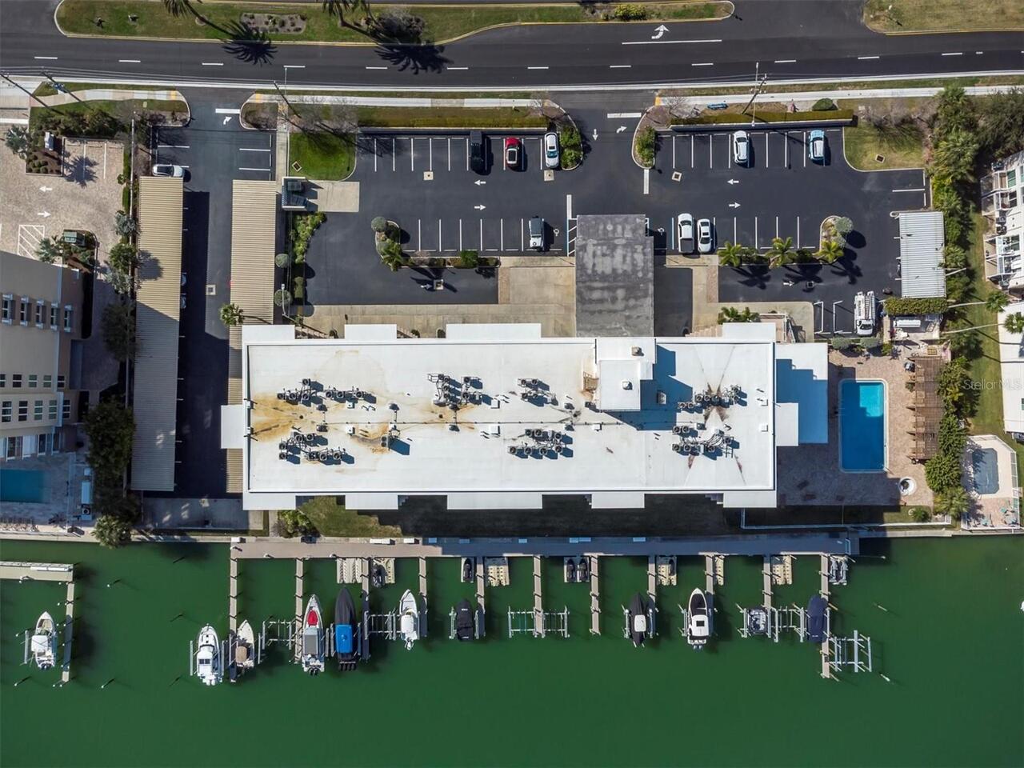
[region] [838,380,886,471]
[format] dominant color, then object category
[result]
blue swimming pool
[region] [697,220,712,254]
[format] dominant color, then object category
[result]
white car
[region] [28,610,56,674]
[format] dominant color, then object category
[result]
white boat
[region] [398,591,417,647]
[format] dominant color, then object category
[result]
white boat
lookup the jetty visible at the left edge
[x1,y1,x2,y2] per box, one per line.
[0,562,75,682]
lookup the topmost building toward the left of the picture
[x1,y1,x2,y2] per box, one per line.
[282,177,309,213]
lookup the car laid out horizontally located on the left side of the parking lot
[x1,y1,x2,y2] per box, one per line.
[153,163,188,178]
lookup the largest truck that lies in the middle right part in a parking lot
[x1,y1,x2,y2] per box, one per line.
[853,289,877,335]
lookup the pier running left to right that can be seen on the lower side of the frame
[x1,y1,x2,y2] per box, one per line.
[231,535,859,559]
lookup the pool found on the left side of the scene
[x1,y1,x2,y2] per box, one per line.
[0,468,44,503]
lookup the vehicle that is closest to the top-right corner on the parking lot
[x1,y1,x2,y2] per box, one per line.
[808,133,825,163]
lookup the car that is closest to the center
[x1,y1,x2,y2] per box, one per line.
[529,215,544,249]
